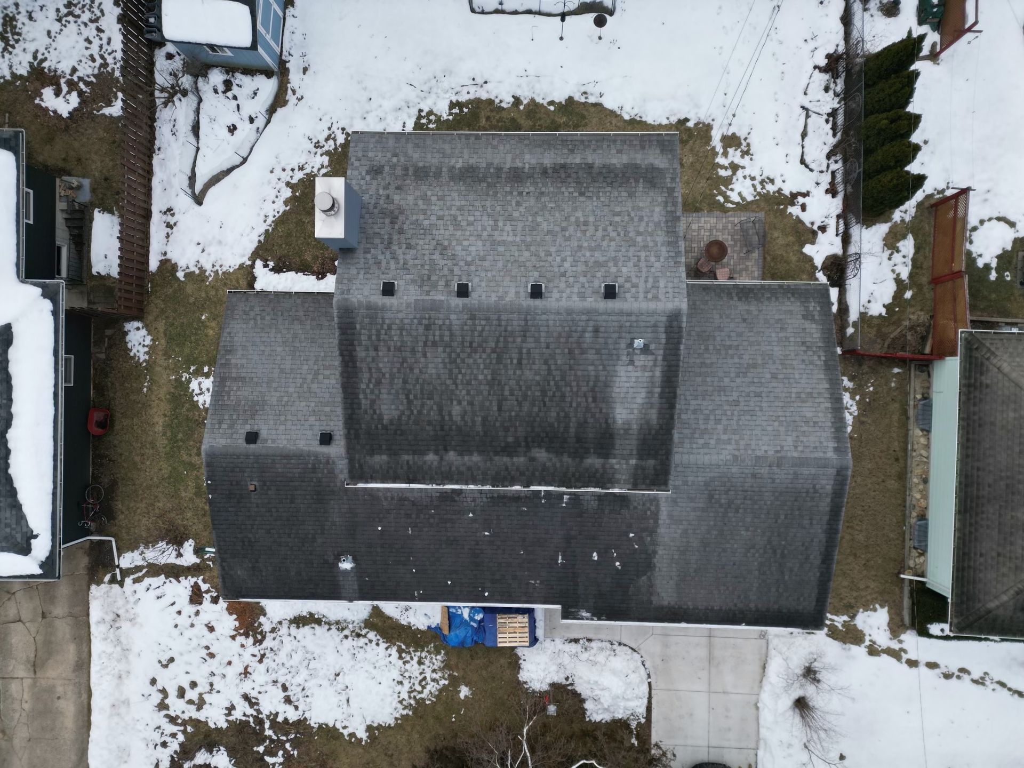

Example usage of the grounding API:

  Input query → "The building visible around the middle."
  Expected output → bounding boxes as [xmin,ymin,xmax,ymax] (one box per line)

[202,131,852,633]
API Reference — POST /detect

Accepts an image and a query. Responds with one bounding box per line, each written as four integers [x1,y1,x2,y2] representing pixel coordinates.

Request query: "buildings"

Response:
[0,128,121,581]
[154,0,279,71]
[903,330,1024,639]
[202,131,852,633]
